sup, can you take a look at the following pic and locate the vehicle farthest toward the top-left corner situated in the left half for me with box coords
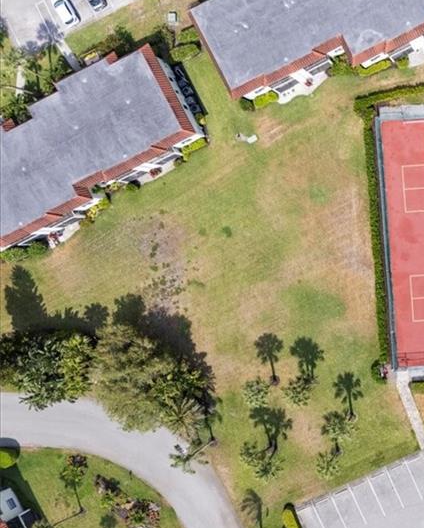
[50,0,82,28]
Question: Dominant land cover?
grass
